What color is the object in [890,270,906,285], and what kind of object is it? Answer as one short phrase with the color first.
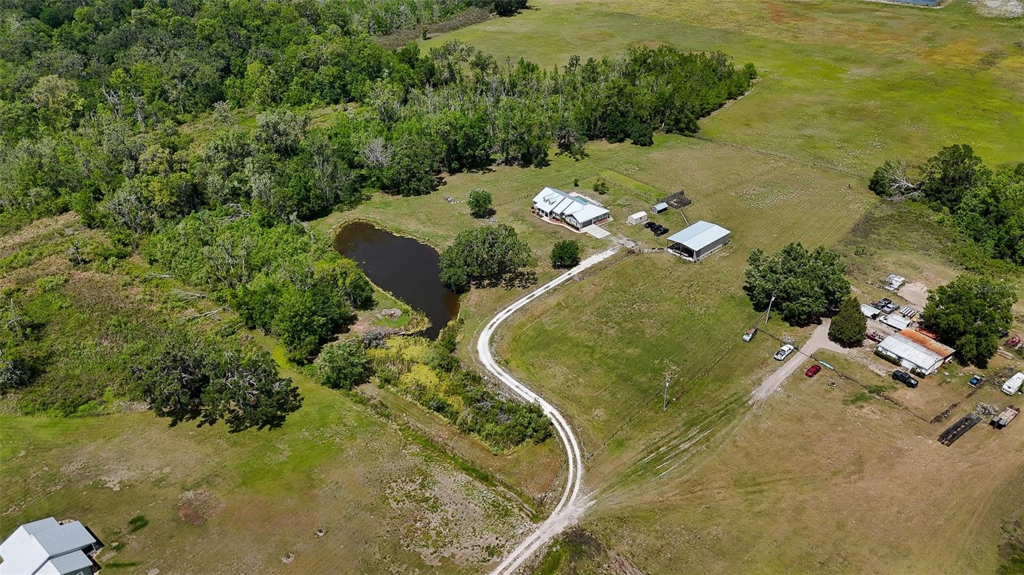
white vehicle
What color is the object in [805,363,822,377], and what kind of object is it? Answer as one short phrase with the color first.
red car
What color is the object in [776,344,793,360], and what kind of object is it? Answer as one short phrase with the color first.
white vehicle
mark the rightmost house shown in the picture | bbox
[877,328,955,377]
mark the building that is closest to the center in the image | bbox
[529,186,609,230]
